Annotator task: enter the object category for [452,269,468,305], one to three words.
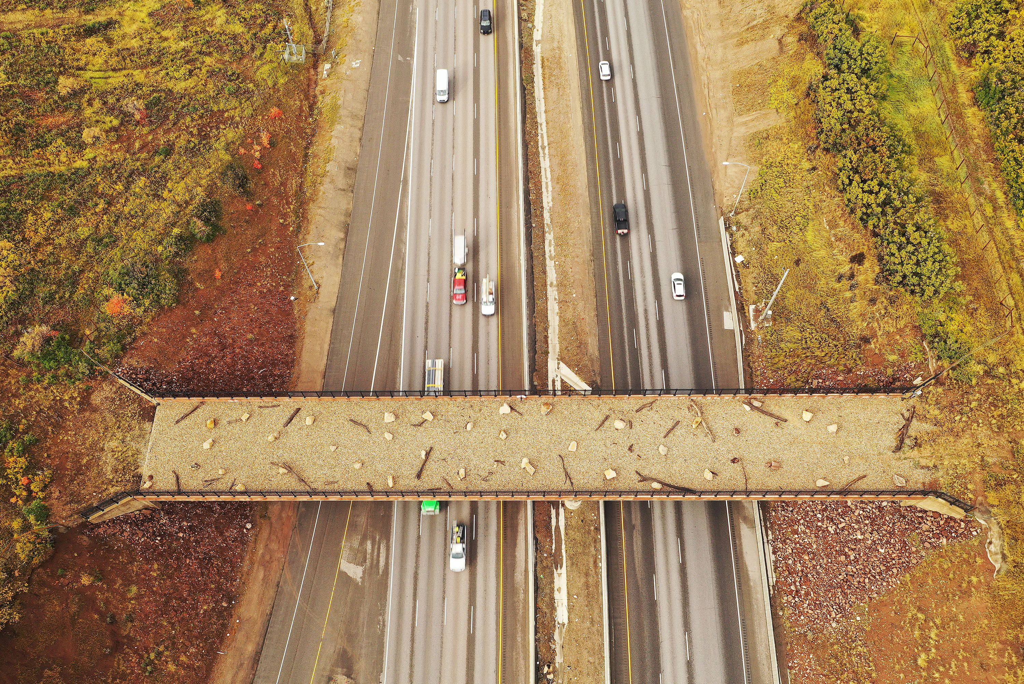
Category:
vehicle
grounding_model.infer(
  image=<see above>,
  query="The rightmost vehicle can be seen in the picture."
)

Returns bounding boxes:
[670,274,684,300]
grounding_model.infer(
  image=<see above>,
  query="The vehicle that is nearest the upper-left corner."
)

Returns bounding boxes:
[436,70,450,103]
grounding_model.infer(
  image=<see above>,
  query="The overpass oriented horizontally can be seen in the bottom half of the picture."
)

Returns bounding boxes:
[84,369,973,523]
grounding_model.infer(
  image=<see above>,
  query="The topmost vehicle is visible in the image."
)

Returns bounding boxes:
[480,12,492,35]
